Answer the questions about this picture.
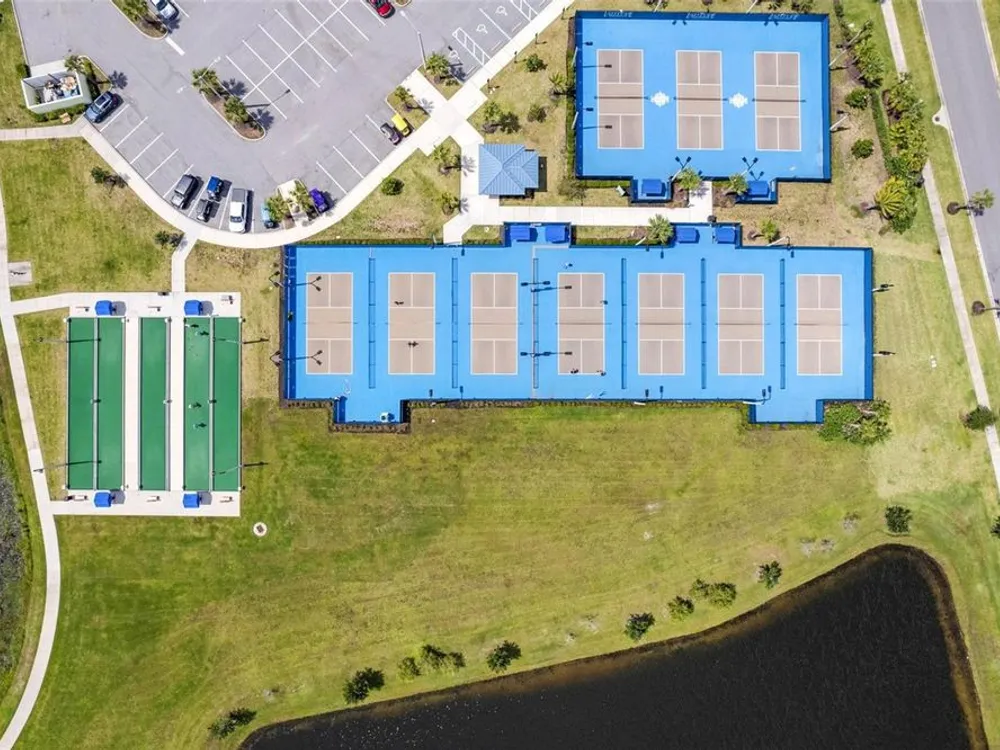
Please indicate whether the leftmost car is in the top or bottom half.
top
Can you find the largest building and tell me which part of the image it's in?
top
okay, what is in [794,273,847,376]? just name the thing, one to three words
sports court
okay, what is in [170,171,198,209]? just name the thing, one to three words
car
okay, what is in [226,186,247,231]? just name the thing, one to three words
truck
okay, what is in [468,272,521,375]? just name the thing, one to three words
sports court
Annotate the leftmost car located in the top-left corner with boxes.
[80,87,114,121]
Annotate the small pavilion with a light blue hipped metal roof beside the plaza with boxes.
[479,144,539,196]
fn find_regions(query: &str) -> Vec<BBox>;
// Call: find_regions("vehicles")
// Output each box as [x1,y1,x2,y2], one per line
[380,120,400,144]
[368,0,395,18]
[311,187,329,212]
[259,203,275,226]
[80,87,114,121]
[393,110,412,134]
[226,186,247,231]
[194,196,212,218]
[146,0,174,21]
[205,175,224,197]
[170,171,198,209]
